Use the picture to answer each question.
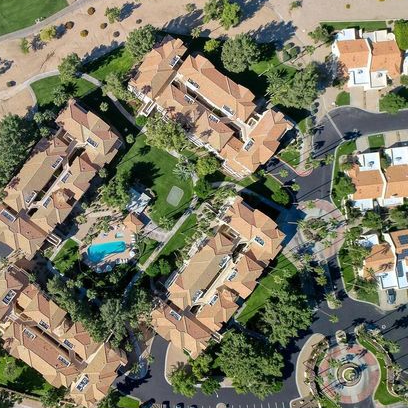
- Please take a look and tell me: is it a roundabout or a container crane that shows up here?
roundabout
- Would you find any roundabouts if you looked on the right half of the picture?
Yes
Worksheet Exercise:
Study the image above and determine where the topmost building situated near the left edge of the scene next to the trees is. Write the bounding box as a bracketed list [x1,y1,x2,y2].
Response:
[0,96,122,262]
